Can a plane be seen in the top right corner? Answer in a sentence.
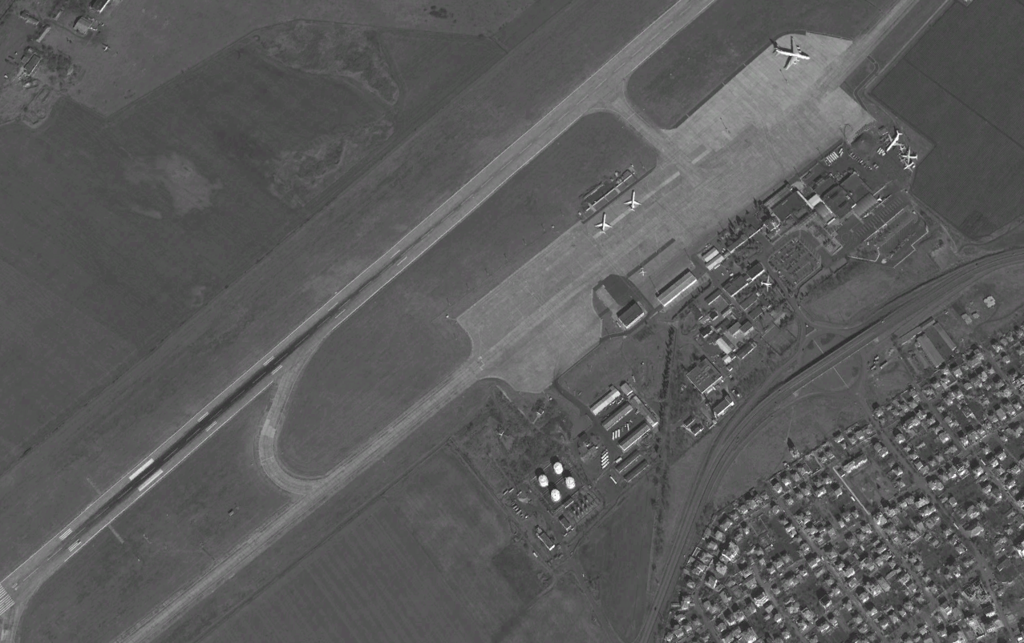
Yes, the scene does show a plane in the top right corner.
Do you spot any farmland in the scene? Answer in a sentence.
Yes, there's farmland in this view.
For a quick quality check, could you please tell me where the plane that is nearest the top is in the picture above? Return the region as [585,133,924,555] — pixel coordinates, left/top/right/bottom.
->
[773,38,810,67]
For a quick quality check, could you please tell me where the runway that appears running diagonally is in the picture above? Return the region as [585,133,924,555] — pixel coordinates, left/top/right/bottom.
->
[0,0,718,617]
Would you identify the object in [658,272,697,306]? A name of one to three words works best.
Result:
hangar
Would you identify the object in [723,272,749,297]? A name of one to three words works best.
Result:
building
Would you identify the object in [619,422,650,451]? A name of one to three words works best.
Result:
building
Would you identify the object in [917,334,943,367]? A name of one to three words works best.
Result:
shed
